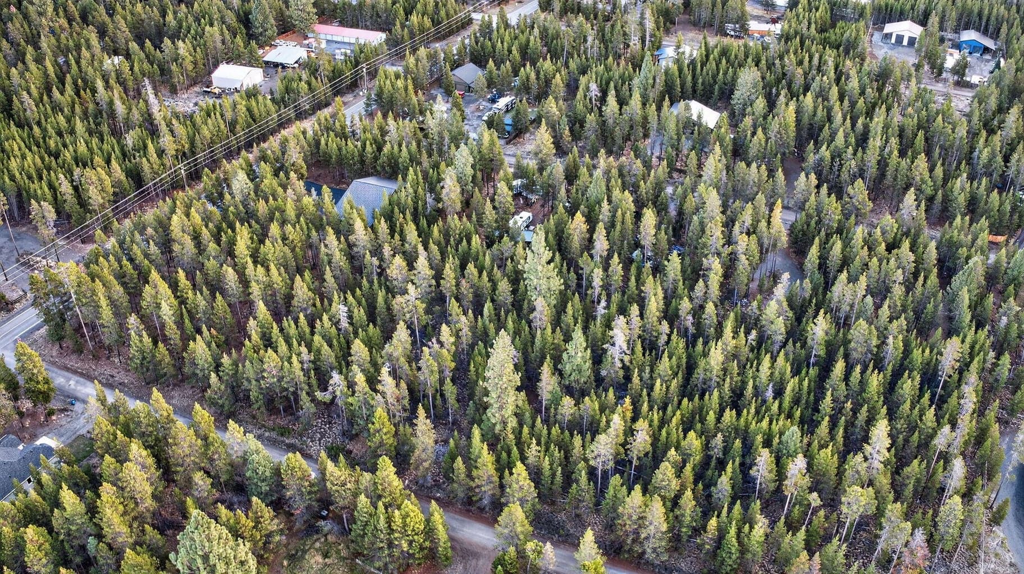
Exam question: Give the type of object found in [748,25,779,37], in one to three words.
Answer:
building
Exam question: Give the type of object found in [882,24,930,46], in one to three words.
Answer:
building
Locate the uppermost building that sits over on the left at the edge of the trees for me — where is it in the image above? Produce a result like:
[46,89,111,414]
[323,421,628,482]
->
[306,24,386,44]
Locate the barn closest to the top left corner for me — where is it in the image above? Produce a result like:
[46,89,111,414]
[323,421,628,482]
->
[209,64,266,89]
